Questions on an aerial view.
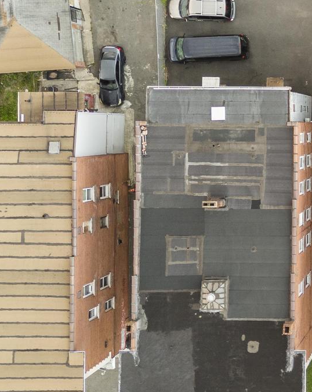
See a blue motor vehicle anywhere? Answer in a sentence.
No, the frame has no blue motor vehicle in it.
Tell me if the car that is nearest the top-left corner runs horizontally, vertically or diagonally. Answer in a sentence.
The car that is nearest the top-left corner has been laid out vertically relative to the frame.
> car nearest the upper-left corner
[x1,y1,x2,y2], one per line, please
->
[96,45,129,107]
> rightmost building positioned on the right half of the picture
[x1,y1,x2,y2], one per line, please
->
[118,87,312,392]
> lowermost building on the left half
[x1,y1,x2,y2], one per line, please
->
[0,111,130,392]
